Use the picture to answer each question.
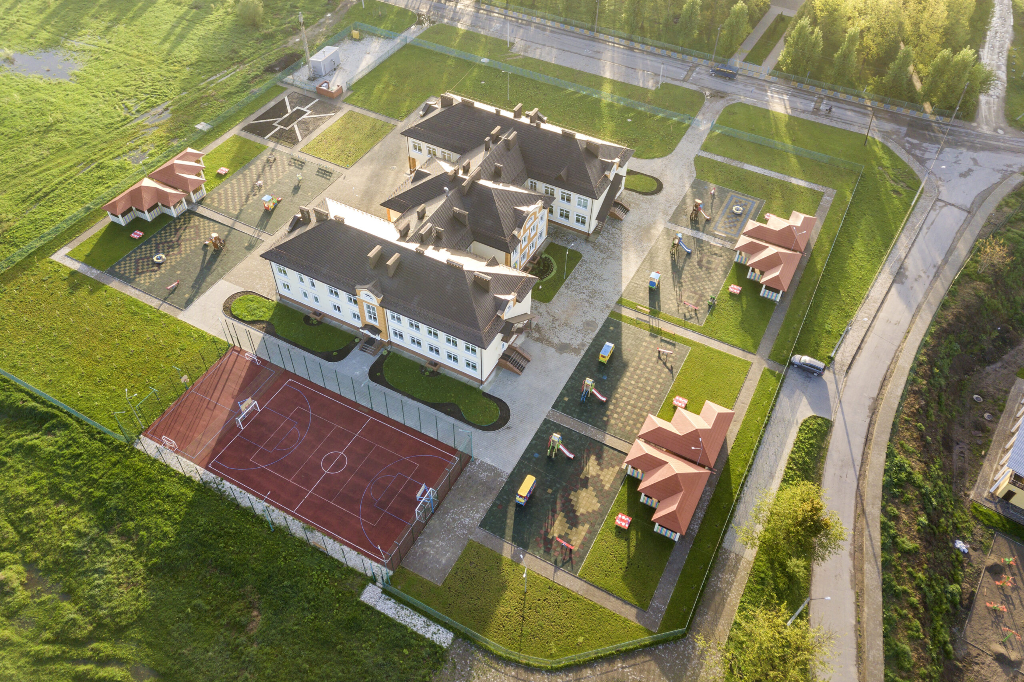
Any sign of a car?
Yes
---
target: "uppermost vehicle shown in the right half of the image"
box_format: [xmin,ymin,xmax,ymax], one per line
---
[707,62,739,80]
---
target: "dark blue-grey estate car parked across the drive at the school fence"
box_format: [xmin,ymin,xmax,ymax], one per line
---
[790,352,829,376]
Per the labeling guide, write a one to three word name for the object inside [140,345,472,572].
sports court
